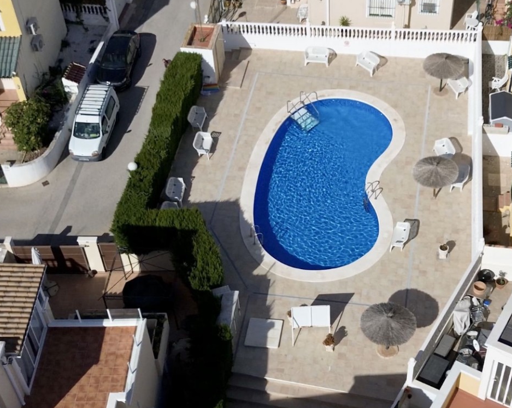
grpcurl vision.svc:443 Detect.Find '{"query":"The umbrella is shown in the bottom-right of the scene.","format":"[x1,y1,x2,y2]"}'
[360,296,421,358]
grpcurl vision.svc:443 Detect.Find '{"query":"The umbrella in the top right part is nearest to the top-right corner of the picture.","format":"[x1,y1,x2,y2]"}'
[421,47,468,95]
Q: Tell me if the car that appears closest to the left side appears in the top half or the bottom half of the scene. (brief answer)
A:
top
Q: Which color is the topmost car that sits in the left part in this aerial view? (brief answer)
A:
black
